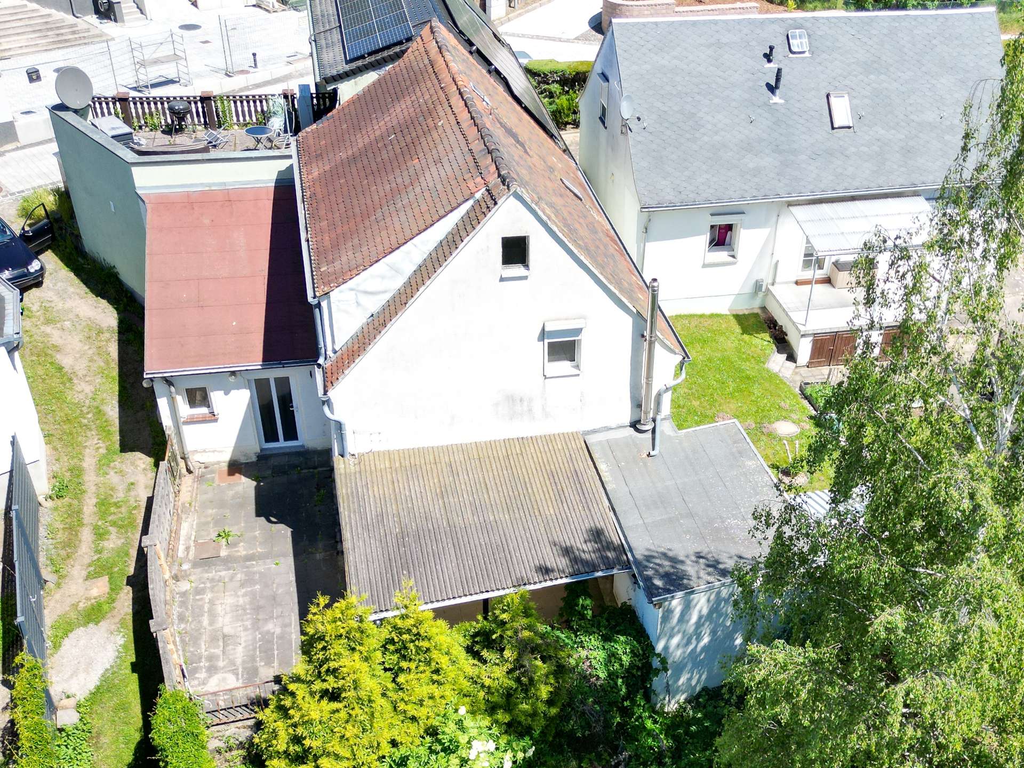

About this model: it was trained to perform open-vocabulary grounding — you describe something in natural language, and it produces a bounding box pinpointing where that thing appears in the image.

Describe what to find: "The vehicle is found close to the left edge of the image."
[0,204,52,287]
